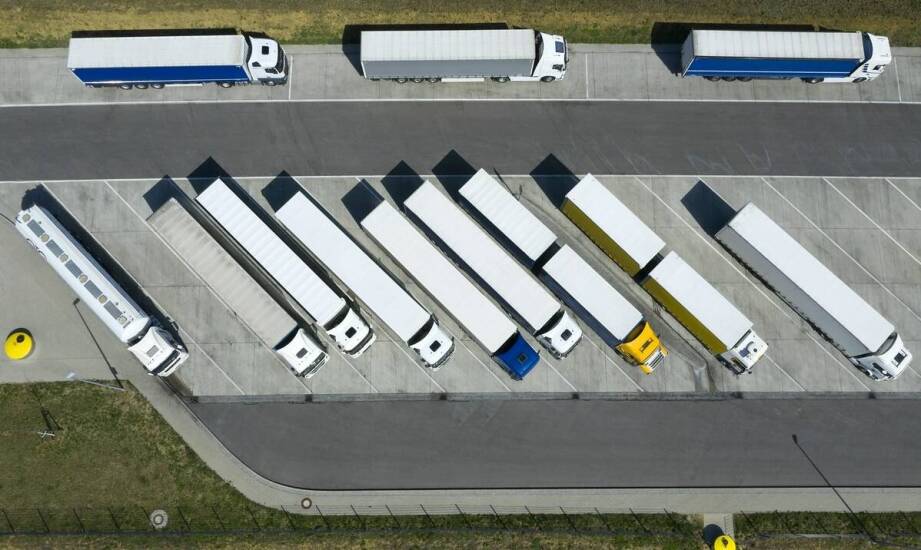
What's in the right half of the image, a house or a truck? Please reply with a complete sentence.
The feature located in the right half of the image is a truck.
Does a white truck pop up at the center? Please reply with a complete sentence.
Yes, looking at the center, one can make out a white truck.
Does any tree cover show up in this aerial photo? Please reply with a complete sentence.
No, the scene doesn't show any tree cover.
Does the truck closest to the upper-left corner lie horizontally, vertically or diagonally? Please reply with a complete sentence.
The truck closest to the upper-left corner has been laid out horizontally relative to the frame.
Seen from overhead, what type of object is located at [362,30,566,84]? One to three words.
truck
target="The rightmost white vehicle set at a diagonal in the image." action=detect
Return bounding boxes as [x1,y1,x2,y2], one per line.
[715,202,915,384]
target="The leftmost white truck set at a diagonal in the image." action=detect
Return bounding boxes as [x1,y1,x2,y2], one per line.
[13,205,183,369]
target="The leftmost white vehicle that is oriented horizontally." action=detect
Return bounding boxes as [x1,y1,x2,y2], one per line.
[66,35,288,90]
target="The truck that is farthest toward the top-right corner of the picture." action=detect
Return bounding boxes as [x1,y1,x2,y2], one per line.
[680,29,891,83]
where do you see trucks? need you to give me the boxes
[13,205,183,369]
[362,30,566,84]
[196,178,377,357]
[560,174,766,374]
[458,169,665,375]
[680,29,891,83]
[404,182,585,361]
[276,192,459,371]
[715,202,915,384]
[361,201,542,384]
[66,35,288,90]
[148,199,331,380]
